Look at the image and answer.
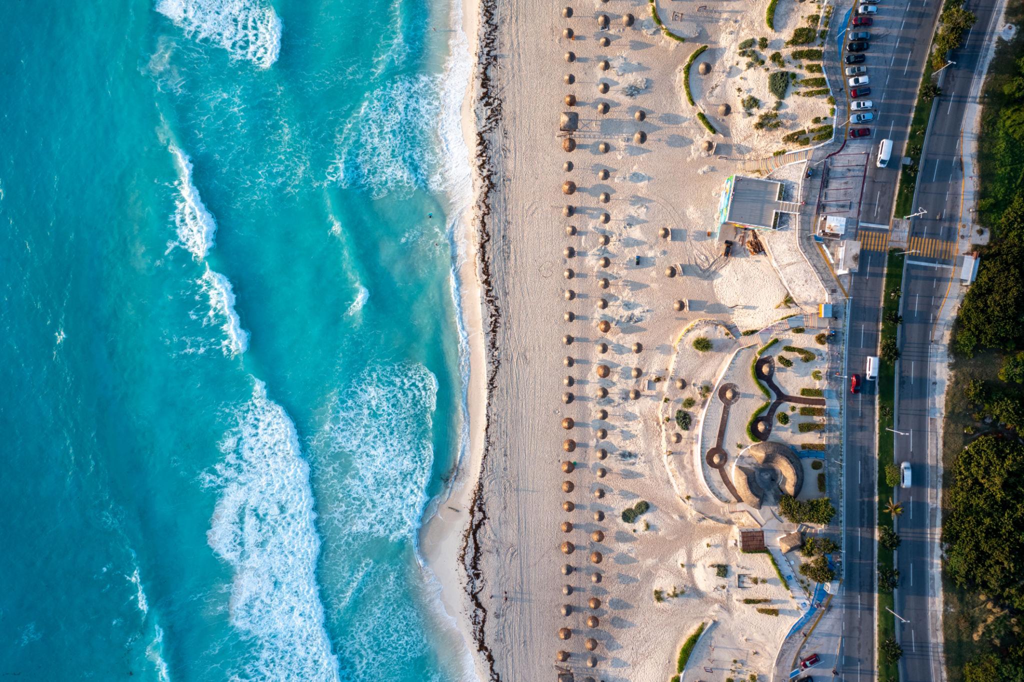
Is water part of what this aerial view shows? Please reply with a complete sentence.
Yes, there is water in the image.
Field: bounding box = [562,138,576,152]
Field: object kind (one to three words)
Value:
umbrella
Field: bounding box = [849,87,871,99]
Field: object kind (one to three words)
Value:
vehicle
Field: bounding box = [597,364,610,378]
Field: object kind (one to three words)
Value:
umbrella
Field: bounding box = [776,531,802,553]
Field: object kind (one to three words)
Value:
shed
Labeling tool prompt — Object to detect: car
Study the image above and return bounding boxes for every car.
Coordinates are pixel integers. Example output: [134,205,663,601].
[848,128,870,138]
[795,674,815,682]
[800,651,820,668]
[857,4,878,15]
[848,30,870,42]
[849,87,871,99]
[852,16,872,27]
[845,65,867,77]
[850,374,862,394]
[850,100,872,111]
[848,76,870,87]
[858,0,879,6]
[844,54,865,65]
[846,41,868,53]
[849,112,874,124]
